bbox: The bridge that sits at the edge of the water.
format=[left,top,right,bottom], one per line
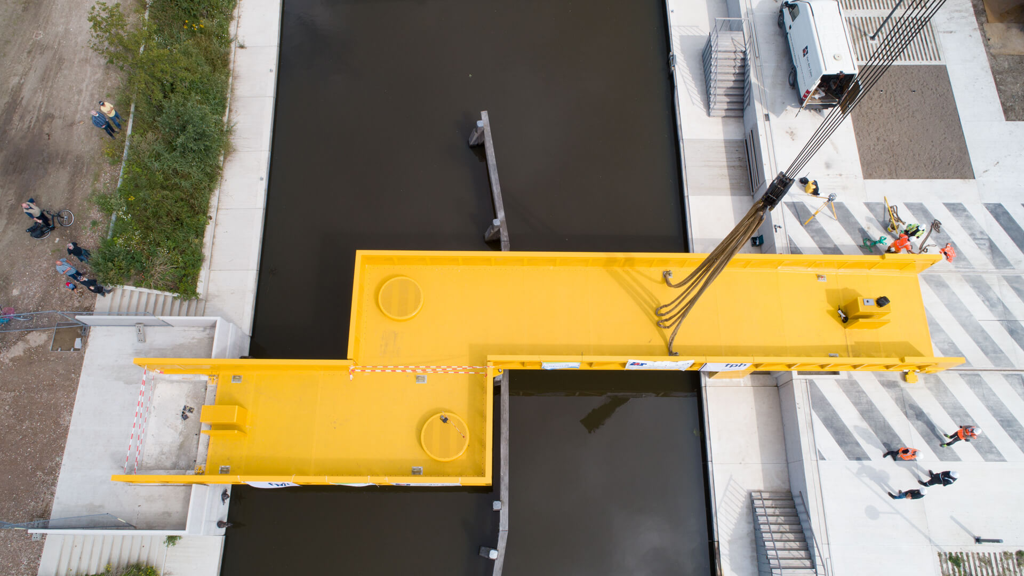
[110,251,967,487]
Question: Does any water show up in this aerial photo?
Yes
